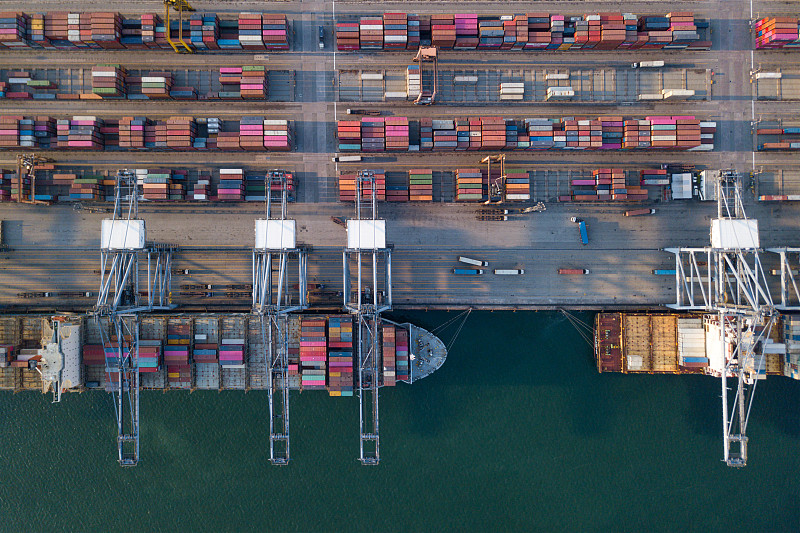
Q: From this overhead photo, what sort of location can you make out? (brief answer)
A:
port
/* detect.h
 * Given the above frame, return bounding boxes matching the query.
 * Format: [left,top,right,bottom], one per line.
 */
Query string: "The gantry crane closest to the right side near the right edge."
[761,244,800,309]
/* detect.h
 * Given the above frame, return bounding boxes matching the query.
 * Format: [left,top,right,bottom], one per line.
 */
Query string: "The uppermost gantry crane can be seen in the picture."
[164,0,195,52]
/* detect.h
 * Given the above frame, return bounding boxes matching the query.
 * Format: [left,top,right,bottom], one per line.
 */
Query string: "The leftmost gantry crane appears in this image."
[17,150,56,205]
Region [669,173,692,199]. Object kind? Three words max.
building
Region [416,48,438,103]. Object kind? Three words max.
container crane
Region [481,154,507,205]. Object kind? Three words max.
container crane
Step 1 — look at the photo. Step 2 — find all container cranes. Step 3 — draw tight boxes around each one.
[337,168,400,466]
[86,168,193,466]
[164,0,195,52]
[17,150,56,205]
[659,168,781,466]
[481,154,507,205]
[416,48,438,103]
[248,167,325,466]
